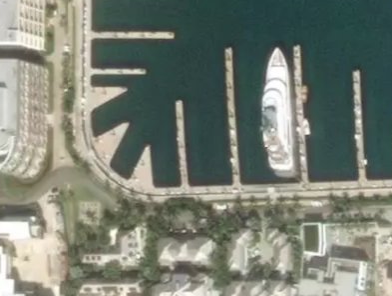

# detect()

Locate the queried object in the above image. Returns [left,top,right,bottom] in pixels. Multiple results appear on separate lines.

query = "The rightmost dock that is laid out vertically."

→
[353,70,368,181]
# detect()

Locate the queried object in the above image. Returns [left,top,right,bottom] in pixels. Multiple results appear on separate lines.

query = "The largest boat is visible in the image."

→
[264,47,301,178]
